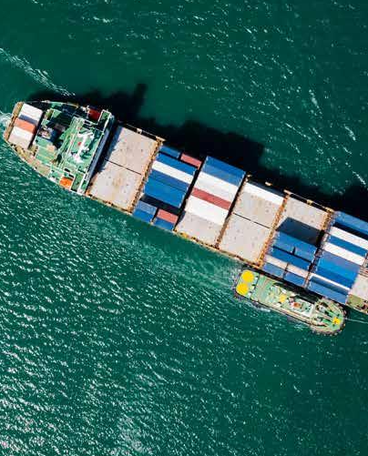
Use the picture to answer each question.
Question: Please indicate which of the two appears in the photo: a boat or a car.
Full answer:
Of the two, only a boat appears.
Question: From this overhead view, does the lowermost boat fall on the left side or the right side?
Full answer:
The lowermost boat appears in the right half of the scene.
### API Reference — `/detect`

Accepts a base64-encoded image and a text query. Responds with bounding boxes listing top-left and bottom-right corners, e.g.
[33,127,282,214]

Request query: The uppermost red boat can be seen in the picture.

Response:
[88,108,101,121]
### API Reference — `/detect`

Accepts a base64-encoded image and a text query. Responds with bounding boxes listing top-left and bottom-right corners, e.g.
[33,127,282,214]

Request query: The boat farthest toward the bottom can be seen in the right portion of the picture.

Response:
[234,267,348,336]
